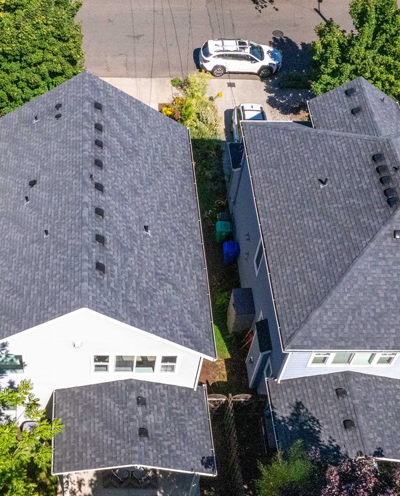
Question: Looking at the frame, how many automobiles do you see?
2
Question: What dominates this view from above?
buildings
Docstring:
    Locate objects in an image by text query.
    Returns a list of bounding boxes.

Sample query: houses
[228,75,400,485]
[0,70,219,496]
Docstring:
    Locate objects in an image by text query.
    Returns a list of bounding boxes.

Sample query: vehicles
[200,34,286,76]
[229,108,266,152]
